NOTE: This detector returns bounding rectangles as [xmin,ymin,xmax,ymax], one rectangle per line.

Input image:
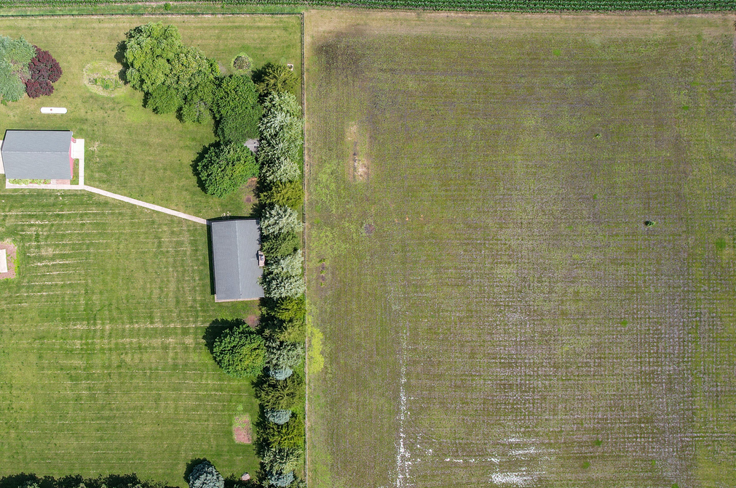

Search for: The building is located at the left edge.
[1,130,74,180]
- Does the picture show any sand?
No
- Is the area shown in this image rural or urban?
rural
